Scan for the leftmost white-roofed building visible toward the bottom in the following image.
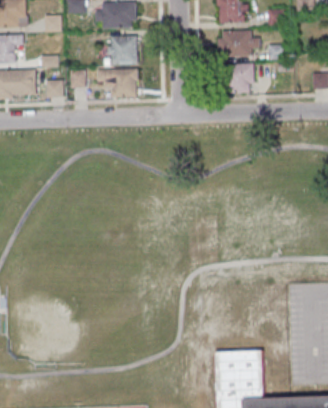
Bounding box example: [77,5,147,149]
[215,350,262,408]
